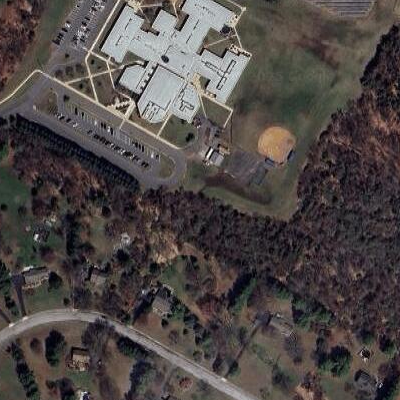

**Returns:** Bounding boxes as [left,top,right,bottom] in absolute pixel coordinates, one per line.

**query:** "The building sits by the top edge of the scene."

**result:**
[101,0,251,123]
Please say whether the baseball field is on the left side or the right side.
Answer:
right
